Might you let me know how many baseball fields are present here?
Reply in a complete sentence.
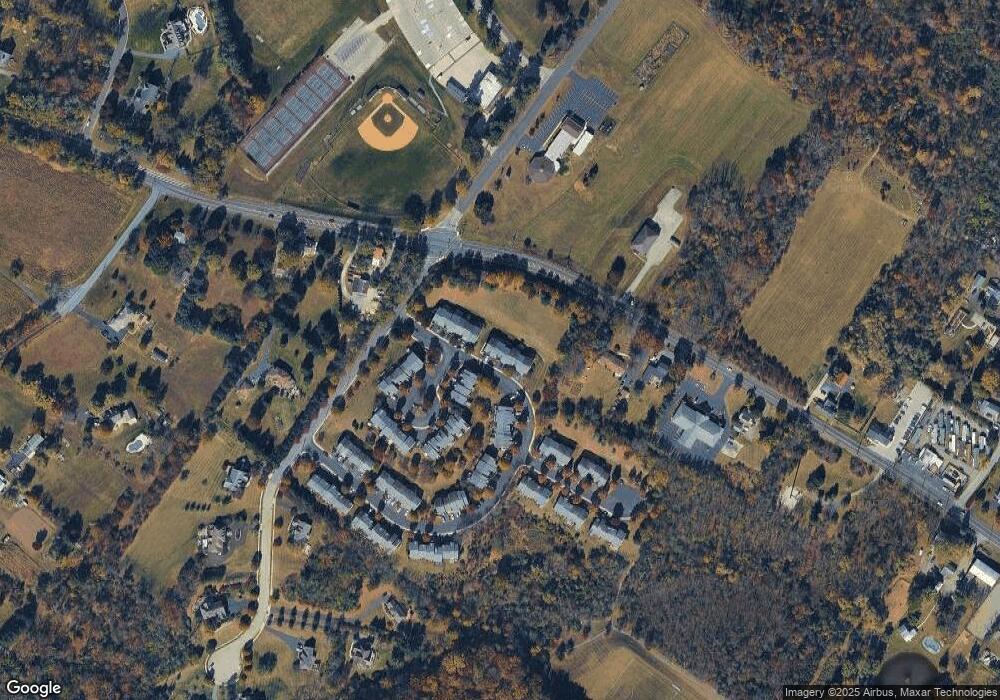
Altogether the scene contains 1 baseball field.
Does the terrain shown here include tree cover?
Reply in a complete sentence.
Yes, there's tree cover in this view.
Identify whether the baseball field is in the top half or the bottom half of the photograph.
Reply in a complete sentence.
The top half of the photo is where the baseball field is.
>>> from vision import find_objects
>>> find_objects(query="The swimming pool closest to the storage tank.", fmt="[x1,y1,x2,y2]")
[922,637,941,652]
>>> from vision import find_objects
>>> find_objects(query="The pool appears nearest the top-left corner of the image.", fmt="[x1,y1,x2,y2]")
[188,7,209,34]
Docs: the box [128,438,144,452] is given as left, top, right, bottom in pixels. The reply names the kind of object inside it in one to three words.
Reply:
swimming pool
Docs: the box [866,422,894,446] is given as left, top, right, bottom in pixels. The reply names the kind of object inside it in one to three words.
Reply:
building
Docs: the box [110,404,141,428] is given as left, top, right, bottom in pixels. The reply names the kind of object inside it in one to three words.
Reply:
house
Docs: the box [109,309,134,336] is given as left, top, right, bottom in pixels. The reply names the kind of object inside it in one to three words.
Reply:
house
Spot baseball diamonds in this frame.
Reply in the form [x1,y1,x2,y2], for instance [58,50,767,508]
[357,92,417,151]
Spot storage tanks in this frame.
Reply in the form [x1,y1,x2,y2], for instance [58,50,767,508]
[877,651,938,700]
